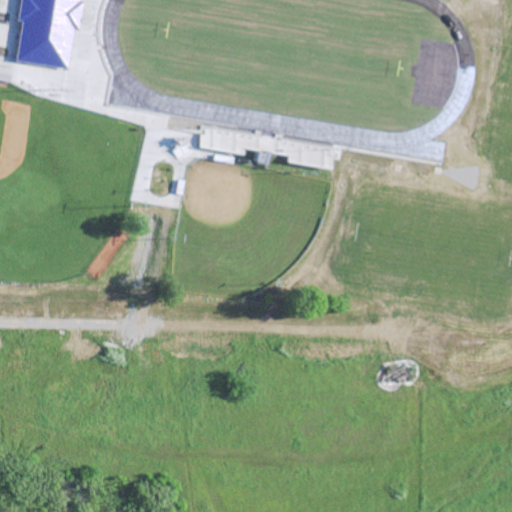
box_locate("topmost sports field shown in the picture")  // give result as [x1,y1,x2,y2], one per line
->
[118,0,456,132]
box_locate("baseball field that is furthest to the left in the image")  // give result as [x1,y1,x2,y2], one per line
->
[0,84,143,283]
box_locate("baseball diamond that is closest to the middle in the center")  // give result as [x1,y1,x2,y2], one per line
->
[174,158,331,301]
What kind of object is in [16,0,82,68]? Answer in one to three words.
building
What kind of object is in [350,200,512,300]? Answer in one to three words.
soccer field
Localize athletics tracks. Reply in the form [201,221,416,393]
[104,0,474,162]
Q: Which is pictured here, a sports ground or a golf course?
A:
sports ground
